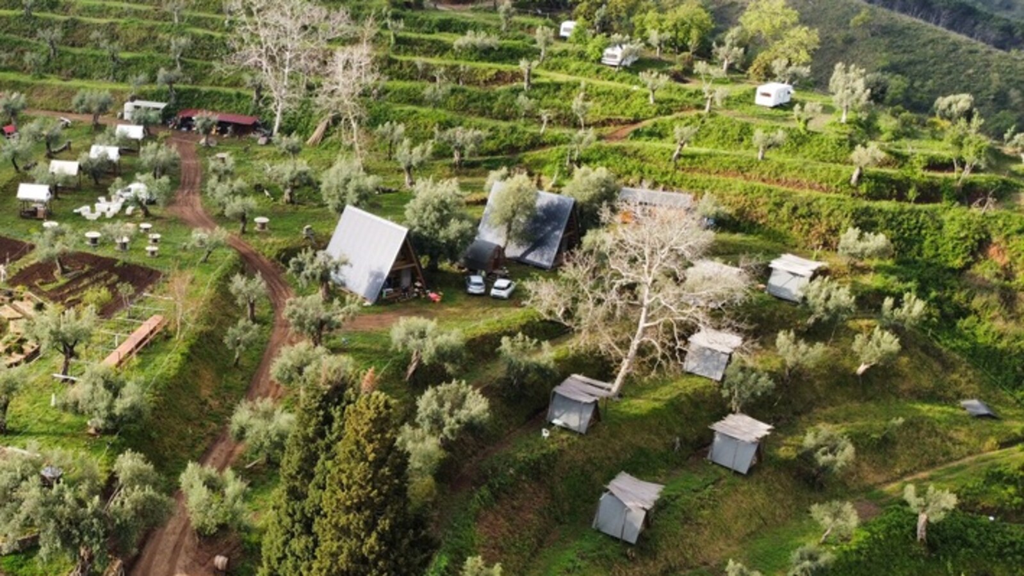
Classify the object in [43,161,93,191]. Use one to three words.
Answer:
shed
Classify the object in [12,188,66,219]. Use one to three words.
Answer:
shed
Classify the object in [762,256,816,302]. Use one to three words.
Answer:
building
